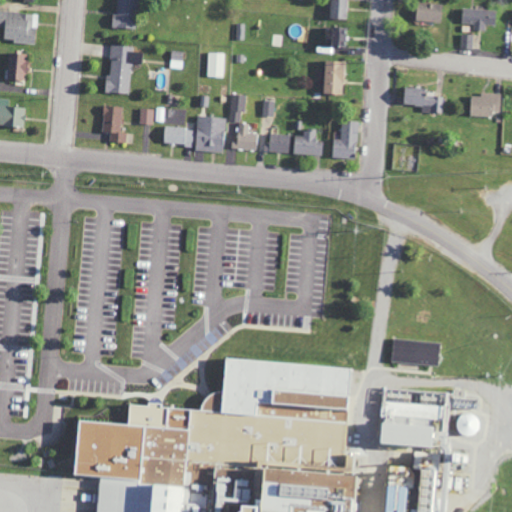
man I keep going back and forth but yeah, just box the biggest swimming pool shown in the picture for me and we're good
[288,23,307,40]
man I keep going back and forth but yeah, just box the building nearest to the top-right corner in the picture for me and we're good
[462,6,496,34]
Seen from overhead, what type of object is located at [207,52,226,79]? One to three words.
shed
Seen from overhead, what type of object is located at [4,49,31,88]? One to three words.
house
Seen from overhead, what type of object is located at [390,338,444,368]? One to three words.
building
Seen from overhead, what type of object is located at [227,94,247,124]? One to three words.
house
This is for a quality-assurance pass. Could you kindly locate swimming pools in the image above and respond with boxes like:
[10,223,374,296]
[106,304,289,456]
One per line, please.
[156,72,166,90]
[288,23,307,40]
